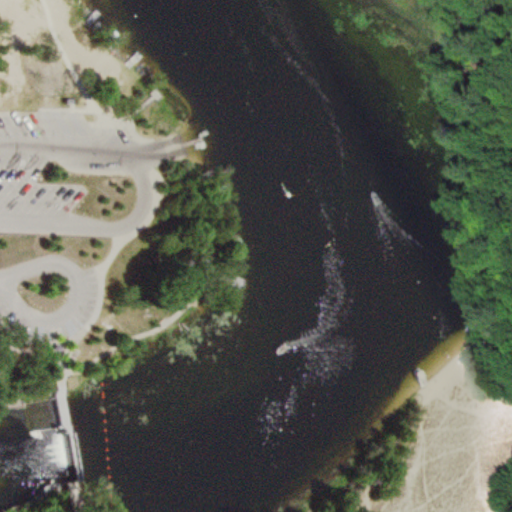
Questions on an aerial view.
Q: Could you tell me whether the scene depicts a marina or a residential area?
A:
marina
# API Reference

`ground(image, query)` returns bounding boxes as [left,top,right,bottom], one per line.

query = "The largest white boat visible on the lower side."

[414,368,430,387]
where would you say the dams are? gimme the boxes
[58,380,84,504]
